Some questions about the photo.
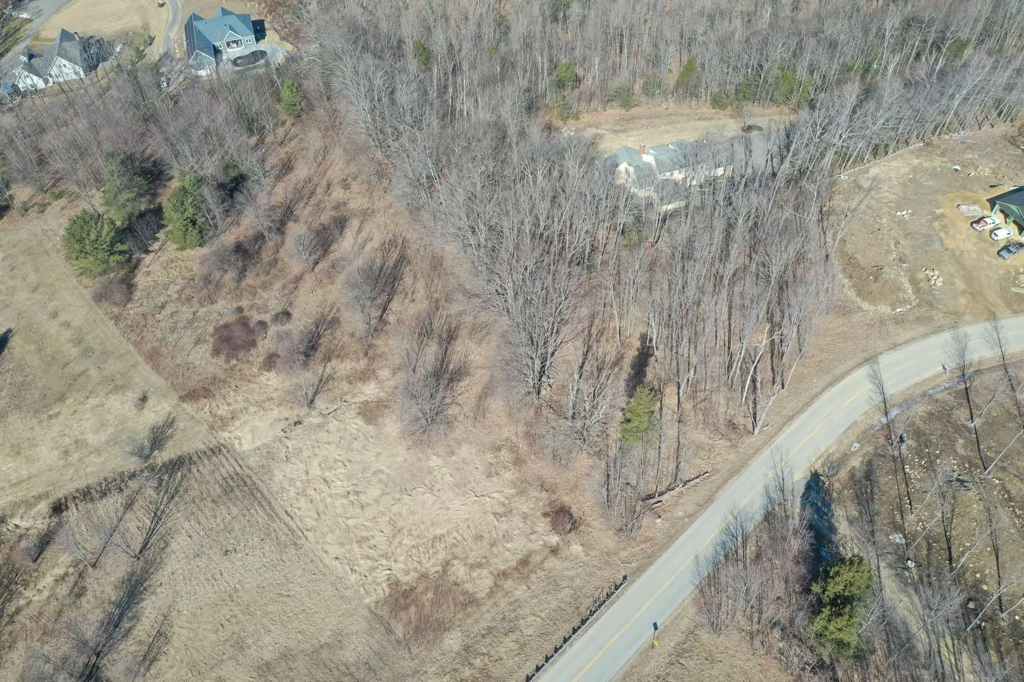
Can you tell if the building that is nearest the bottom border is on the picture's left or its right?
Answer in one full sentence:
The building that is nearest the bottom border appears in the right half of the scene.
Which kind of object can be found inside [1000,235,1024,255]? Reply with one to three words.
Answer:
vehicle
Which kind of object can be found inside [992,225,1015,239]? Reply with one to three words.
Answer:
car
